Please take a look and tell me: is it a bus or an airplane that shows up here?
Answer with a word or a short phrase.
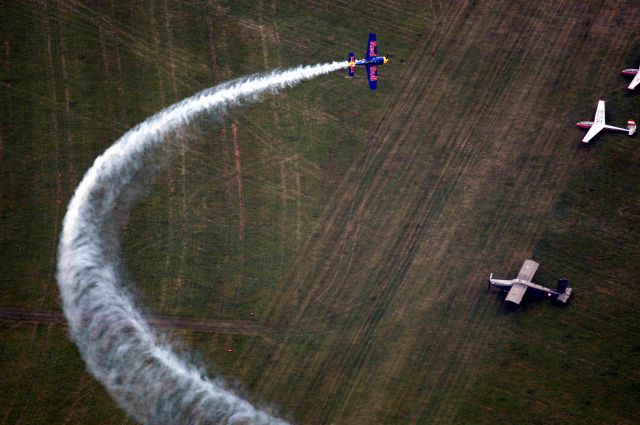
airplane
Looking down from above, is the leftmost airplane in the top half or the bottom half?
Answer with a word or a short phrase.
top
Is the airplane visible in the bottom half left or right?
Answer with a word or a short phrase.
right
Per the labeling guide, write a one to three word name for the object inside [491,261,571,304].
airplane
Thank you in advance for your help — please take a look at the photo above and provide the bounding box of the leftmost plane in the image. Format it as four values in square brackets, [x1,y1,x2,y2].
[347,33,389,89]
